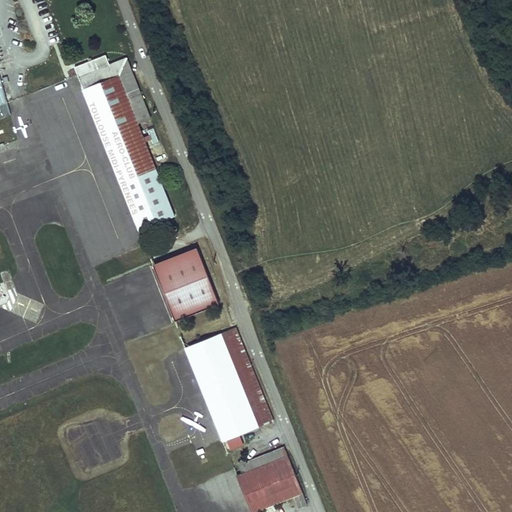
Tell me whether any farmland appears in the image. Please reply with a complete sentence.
Yes, some farmland is visible.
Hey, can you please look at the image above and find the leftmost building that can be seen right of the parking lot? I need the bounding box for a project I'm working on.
[74,55,126,88]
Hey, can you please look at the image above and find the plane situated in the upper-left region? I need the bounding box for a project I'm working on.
[12,116,28,138]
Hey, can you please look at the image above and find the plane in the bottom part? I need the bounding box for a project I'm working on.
[180,412,206,432]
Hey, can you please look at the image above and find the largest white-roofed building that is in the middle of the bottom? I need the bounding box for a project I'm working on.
[185,326,274,442]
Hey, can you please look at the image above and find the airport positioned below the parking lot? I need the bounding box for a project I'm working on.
[0,76,252,512]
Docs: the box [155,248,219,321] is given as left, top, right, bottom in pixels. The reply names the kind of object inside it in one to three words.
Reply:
hangar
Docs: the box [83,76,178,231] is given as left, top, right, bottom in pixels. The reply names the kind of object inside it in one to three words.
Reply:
hangar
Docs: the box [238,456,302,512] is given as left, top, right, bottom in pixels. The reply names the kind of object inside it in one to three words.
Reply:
building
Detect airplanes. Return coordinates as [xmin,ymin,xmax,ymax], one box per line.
[12,116,28,138]
[180,412,206,432]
